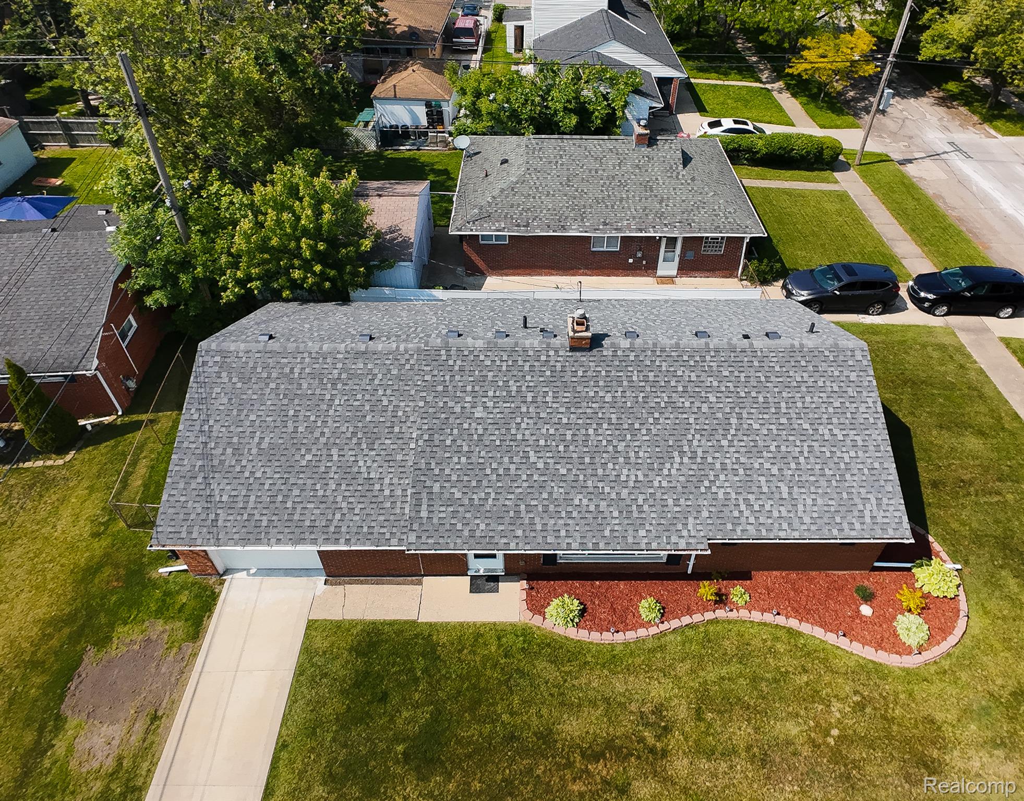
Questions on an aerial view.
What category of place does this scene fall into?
residential area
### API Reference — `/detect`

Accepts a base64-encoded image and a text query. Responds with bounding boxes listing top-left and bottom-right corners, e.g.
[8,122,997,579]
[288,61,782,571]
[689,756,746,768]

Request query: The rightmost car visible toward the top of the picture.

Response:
[907,263,1024,316]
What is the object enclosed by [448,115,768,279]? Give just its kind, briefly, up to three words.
house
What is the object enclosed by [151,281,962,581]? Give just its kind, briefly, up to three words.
house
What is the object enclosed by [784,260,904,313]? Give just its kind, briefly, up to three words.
car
